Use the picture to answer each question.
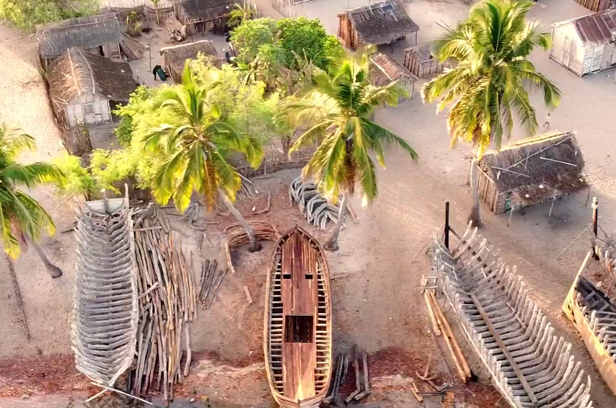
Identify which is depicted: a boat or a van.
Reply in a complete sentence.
This aerial view contains a boat.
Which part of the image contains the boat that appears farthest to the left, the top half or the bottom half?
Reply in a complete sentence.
You can find the boat that appears farthest to the left in the bottom half.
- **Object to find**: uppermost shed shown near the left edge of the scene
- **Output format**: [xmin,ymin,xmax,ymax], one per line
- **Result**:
[18,10,128,62]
